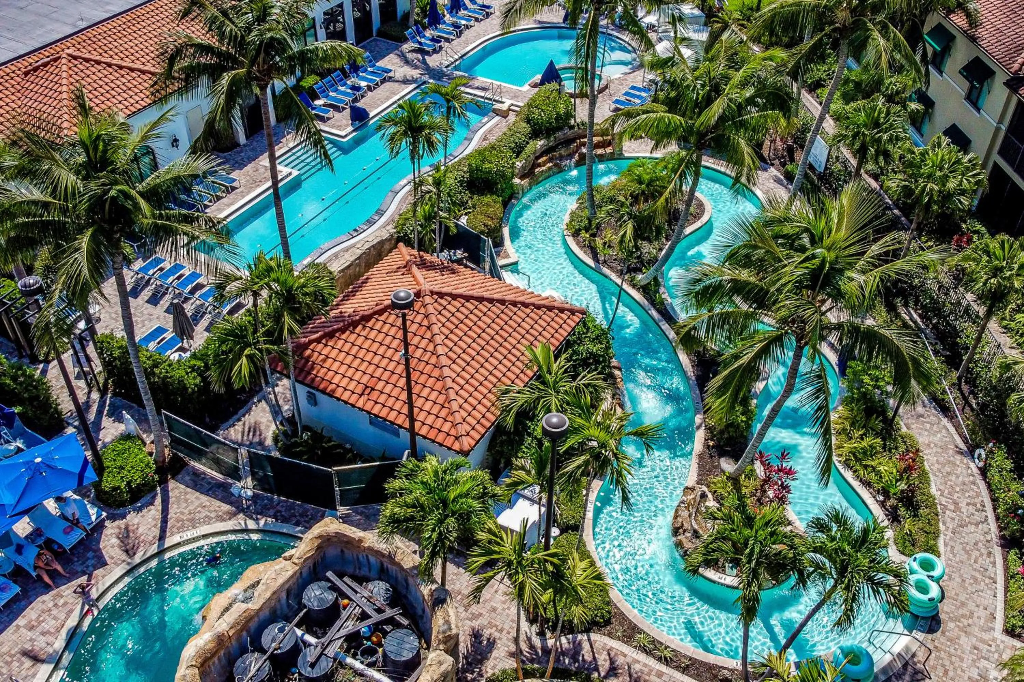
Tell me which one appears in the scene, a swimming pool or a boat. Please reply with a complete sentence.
The one in the frame is a swimming pool.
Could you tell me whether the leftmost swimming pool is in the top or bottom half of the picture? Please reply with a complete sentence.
It is in the bottom half that the leftmost swimming pool appears.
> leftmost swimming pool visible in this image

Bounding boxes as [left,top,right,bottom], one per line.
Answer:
[61,540,317,682]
